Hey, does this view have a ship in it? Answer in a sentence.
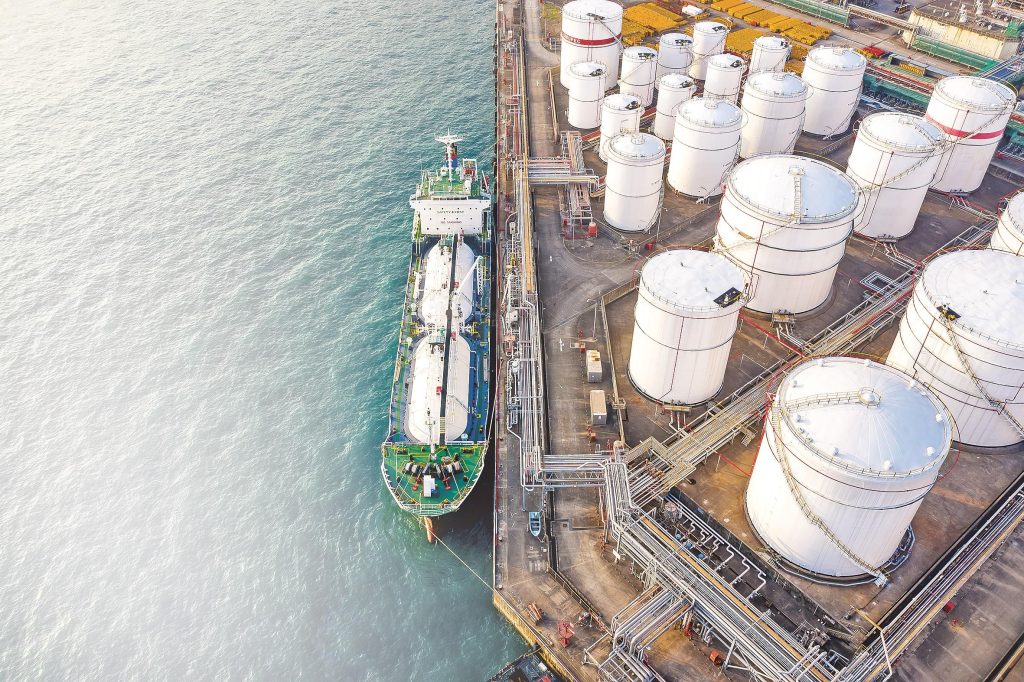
Yes, the image includes a ship.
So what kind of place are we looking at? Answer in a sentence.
The picture captures an industrial area.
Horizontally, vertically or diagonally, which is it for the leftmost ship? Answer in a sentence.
I'd say the leftmost ship is aligned vertically in the picture.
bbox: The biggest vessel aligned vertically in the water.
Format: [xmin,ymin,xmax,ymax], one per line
[379,129,491,544]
